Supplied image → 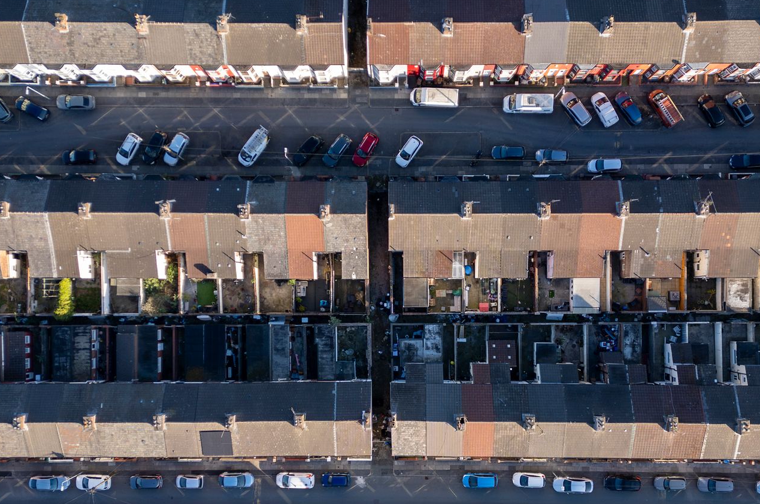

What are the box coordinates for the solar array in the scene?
[200,431,232,456]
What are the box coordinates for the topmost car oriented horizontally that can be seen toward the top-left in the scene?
[56,93,97,111]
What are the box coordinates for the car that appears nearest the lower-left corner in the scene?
[27,474,71,494]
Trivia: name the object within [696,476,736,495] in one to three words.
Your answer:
car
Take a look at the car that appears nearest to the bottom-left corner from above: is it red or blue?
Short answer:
blue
